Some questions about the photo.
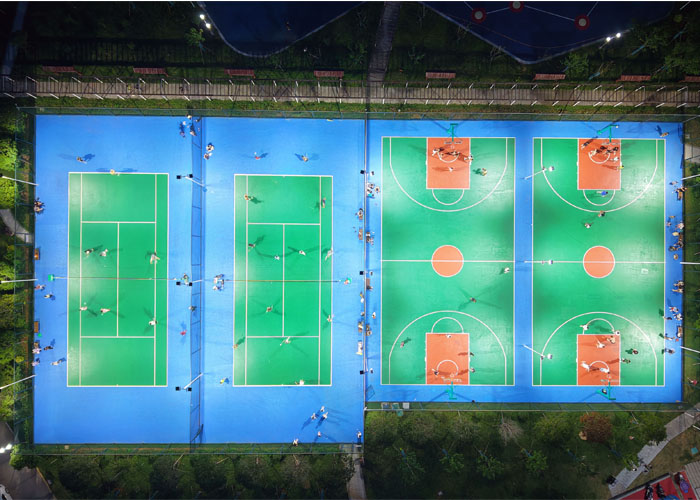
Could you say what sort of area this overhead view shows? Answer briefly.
sports ground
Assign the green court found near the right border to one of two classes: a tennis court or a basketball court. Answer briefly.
basketball court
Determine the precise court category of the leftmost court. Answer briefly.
tennis court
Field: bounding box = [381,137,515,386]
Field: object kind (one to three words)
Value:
basketball court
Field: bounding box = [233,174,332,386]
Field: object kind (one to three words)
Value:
tennis court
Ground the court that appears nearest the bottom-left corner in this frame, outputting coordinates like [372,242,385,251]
[68,173,167,386]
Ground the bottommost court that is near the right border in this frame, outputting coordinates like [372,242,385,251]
[533,137,665,386]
